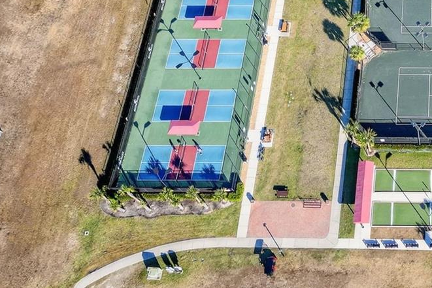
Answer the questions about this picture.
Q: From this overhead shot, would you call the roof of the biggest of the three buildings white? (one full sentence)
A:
No, the color of the roof of the biggest of the three buildings is pink.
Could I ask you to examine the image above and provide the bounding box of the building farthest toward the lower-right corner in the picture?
[353,161,379,230]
